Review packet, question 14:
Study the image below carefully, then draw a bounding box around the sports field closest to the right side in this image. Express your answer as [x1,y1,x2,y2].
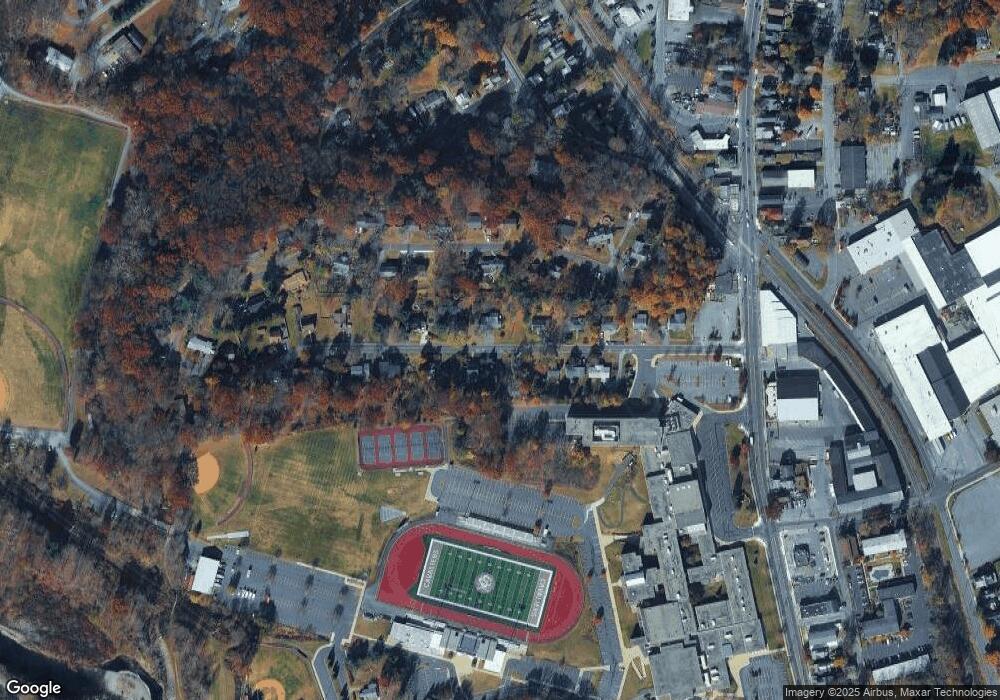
[406,534,558,632]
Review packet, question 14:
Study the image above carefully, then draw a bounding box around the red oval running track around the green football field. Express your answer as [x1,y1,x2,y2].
[371,518,584,642]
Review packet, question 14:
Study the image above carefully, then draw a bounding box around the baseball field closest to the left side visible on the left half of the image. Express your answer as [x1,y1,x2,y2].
[0,299,69,432]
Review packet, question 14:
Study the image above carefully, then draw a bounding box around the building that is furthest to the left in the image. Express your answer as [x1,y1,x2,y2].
[46,48,74,70]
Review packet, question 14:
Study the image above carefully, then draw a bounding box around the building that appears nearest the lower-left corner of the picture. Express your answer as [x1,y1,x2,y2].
[192,556,221,594]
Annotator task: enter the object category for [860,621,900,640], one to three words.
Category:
building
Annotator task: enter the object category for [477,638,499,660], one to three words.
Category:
house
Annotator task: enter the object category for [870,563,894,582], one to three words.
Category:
swimming pool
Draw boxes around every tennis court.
[361,436,376,464]
[394,433,408,461]
[409,432,425,460]
[426,431,440,459]
[378,434,393,463]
